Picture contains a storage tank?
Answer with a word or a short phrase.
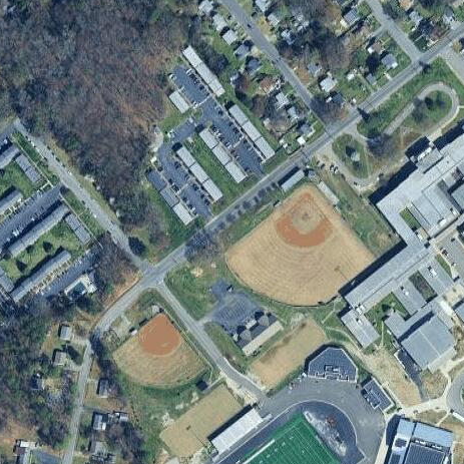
No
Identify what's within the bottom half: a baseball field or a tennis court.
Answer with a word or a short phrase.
baseball field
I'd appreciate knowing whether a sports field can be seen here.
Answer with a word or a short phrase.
Yes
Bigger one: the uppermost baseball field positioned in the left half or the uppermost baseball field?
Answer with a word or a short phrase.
the uppermost baseball field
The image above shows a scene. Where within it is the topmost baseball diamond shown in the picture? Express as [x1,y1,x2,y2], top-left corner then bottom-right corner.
[226,184,377,306]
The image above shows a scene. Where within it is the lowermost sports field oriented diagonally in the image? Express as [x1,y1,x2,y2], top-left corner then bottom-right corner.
[160,383,244,461]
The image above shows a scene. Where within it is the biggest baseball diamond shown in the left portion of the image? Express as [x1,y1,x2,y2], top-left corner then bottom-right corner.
[113,313,208,387]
